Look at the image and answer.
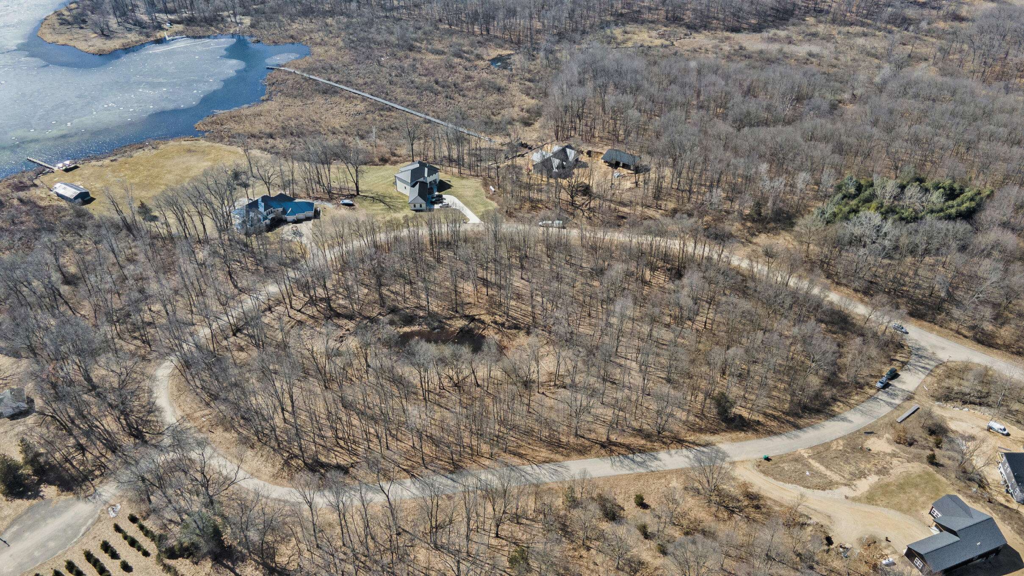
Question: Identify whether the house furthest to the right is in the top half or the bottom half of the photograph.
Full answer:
The house furthest to the right sits in the bottom half of the picture.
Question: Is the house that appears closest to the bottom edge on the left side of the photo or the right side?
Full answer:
The house that appears closest to the bottom edge is on the right side of the image.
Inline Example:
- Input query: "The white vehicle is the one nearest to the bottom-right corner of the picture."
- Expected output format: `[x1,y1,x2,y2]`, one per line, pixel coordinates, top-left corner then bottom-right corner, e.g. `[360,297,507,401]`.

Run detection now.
[986,415,1012,434]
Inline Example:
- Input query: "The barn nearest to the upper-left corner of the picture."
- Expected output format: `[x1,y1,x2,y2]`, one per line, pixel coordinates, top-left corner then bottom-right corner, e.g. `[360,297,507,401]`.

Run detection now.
[53,183,92,206]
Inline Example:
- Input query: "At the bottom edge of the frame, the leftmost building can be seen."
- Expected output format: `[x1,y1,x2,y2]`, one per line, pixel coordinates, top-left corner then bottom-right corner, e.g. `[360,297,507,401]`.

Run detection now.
[903,495,1004,576]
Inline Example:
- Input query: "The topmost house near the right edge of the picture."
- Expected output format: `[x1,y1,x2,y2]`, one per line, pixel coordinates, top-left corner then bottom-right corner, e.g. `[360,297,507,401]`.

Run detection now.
[992,446,1024,515]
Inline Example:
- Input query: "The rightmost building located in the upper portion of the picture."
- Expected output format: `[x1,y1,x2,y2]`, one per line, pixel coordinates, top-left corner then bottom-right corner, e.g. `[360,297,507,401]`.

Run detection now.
[601,152,642,171]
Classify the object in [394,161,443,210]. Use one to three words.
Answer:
house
